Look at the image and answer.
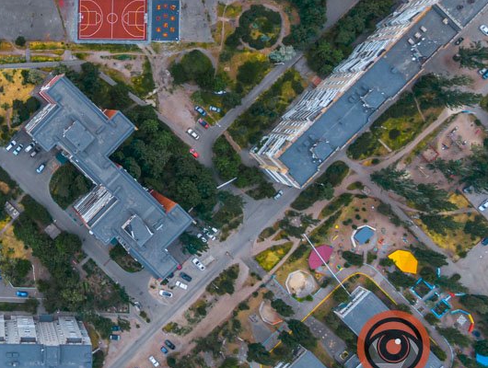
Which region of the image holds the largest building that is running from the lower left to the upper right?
top right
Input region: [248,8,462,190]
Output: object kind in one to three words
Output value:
building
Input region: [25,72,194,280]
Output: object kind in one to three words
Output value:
building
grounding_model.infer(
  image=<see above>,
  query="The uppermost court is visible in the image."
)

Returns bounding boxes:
[78,0,148,40]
